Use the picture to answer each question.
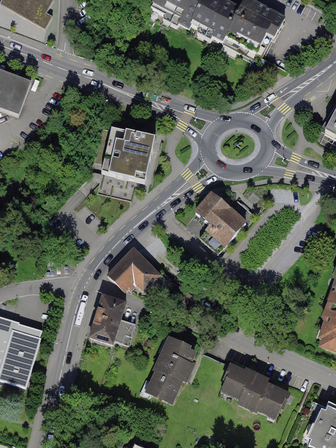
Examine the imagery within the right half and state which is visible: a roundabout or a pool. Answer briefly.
roundabout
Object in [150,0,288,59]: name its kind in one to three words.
building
